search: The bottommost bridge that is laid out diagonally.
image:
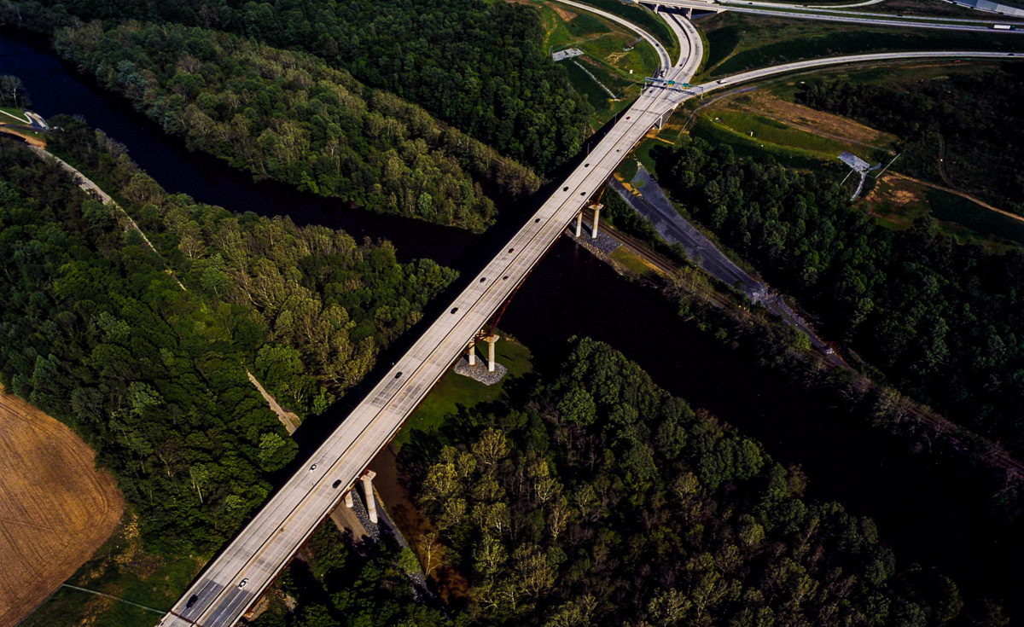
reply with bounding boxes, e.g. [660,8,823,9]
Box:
[152,98,683,627]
